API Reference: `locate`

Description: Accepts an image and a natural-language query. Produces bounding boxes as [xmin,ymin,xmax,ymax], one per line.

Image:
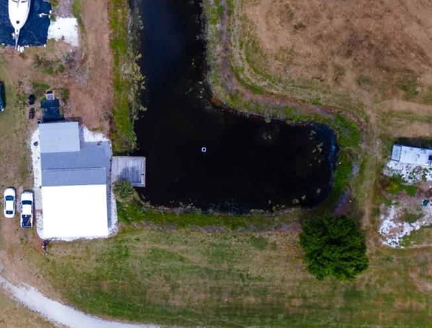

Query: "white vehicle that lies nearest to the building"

[19,190,35,229]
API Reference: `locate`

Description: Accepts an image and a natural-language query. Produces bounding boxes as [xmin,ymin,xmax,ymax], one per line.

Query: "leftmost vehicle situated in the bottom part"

[2,187,16,219]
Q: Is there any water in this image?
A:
Yes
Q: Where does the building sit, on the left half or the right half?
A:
left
